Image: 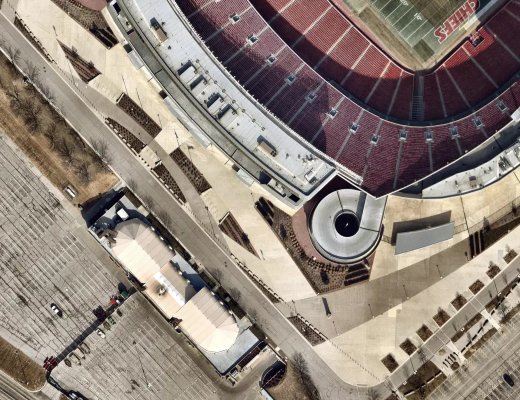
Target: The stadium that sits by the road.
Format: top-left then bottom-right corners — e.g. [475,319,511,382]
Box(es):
[98,0,520,207]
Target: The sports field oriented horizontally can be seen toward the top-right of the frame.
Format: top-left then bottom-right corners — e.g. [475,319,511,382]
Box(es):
[274,0,512,113]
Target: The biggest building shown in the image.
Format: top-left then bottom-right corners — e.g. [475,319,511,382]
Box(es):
[88,196,265,377]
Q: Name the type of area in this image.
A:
sports ground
